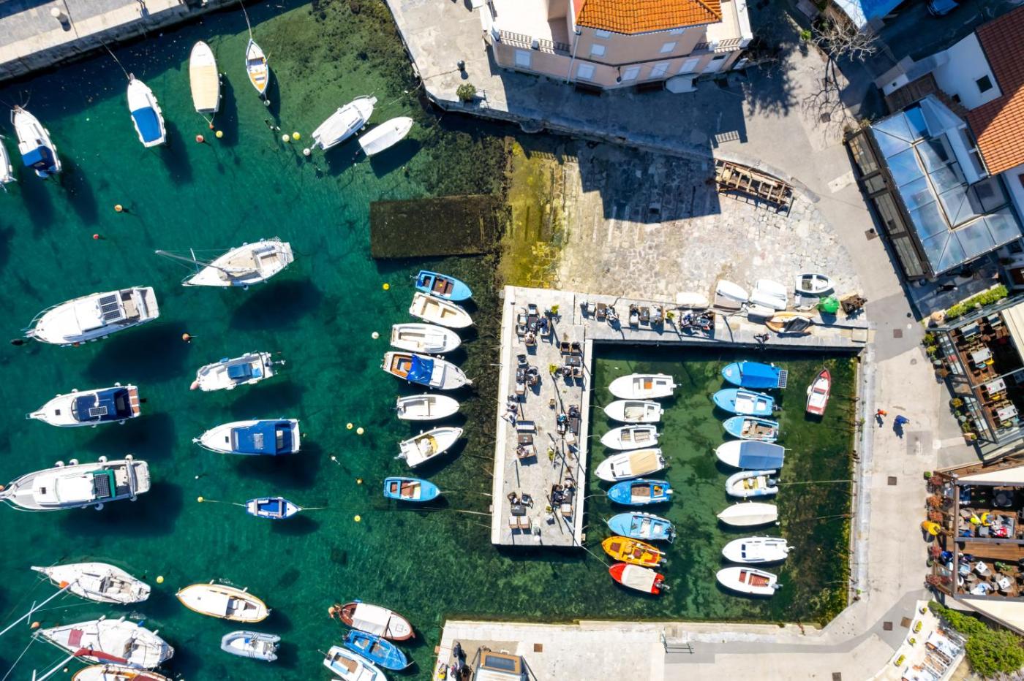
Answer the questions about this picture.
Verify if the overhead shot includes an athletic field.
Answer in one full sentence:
No, there is no athletic field in the image.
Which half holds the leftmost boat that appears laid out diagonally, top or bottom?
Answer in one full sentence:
The leftmost boat that appears laid out diagonally is in the top half of the image.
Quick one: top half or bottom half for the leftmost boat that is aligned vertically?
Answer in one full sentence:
It is in the top half that the leftmost boat that is aligned vertically appears.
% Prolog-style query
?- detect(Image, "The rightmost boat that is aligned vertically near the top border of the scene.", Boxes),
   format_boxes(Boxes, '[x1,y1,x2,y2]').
[242,2,274,99]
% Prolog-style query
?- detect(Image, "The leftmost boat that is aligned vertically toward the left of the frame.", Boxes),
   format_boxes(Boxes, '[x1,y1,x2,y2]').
[0,136,23,192]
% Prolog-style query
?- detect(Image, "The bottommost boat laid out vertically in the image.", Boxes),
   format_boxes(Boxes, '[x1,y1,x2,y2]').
[806,359,830,415]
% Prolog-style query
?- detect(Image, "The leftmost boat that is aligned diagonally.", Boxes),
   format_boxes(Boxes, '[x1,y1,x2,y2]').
[0,85,66,181]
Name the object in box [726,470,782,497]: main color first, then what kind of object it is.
white boat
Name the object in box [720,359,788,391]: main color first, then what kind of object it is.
blue boat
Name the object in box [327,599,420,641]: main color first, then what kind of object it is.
white boat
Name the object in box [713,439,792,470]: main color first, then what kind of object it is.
blue boat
